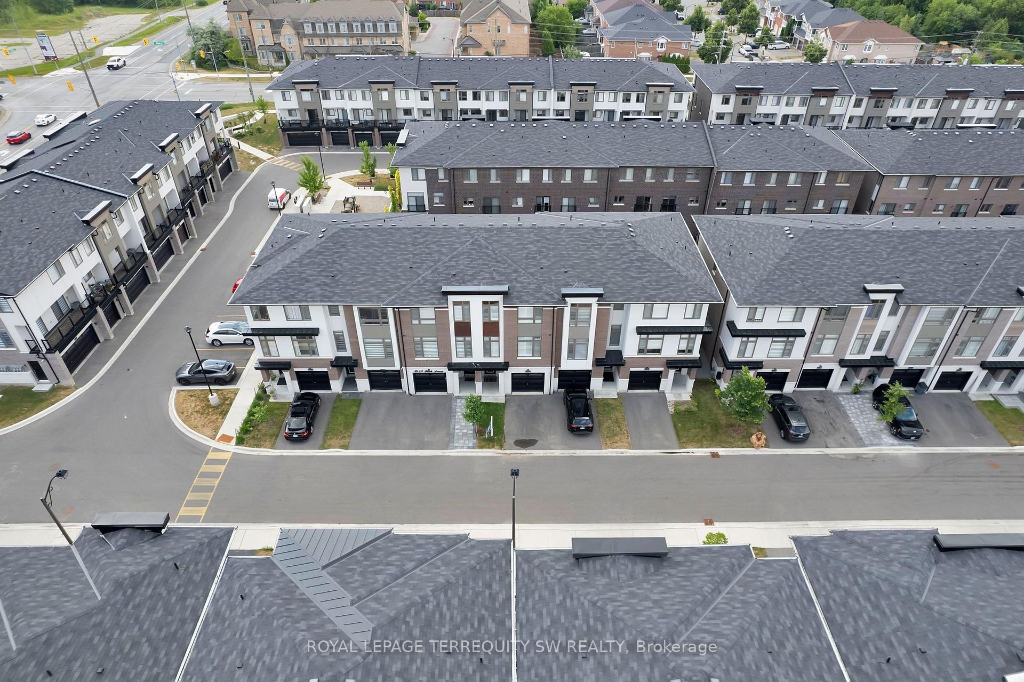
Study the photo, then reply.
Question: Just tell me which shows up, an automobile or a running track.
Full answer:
The image shows an automobile.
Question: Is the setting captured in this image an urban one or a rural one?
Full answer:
This place is urban.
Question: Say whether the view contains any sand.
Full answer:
No, the picture contains no sand.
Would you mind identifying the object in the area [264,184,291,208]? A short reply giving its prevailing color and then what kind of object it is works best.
white vehicle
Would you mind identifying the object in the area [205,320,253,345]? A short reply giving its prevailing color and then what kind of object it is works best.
white car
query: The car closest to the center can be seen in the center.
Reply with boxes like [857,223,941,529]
[565,386,593,431]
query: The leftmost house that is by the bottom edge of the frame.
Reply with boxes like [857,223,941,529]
[0,512,238,682]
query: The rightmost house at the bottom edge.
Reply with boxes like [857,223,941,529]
[789,528,1024,682]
